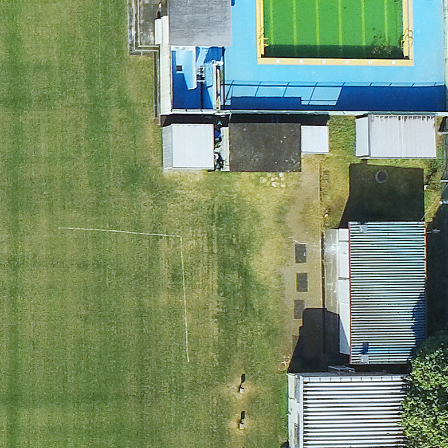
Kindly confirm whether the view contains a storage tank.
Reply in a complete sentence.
No, this view has no storage tank in it.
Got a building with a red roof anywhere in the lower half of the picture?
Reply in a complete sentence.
No, no building with a red roof is visible in the lower half of the picture.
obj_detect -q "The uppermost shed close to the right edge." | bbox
[343,115,436,159]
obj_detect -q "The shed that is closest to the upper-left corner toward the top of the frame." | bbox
[164,124,213,168]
